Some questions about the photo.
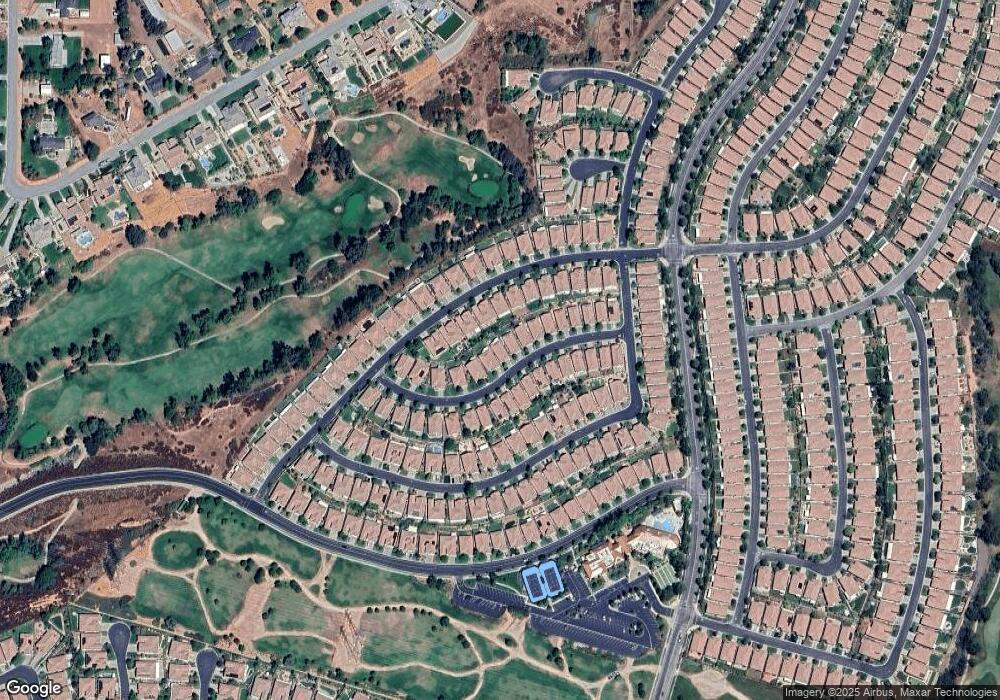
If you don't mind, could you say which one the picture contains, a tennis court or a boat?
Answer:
tennis court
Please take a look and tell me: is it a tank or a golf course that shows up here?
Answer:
golf course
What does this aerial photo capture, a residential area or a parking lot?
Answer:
residential area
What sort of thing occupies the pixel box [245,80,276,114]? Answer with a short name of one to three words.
house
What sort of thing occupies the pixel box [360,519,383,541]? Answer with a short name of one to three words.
house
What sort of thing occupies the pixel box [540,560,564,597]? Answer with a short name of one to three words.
tennis court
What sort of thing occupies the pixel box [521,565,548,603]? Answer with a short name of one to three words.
tennis court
